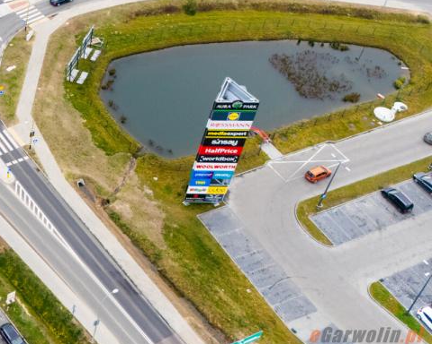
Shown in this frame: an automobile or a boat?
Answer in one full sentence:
The image shows an automobile.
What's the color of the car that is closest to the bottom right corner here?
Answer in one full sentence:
In this view, the car that is closest to the bottom right corner is white.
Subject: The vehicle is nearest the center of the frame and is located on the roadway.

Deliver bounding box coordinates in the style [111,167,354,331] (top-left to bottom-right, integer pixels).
[301,165,334,185]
